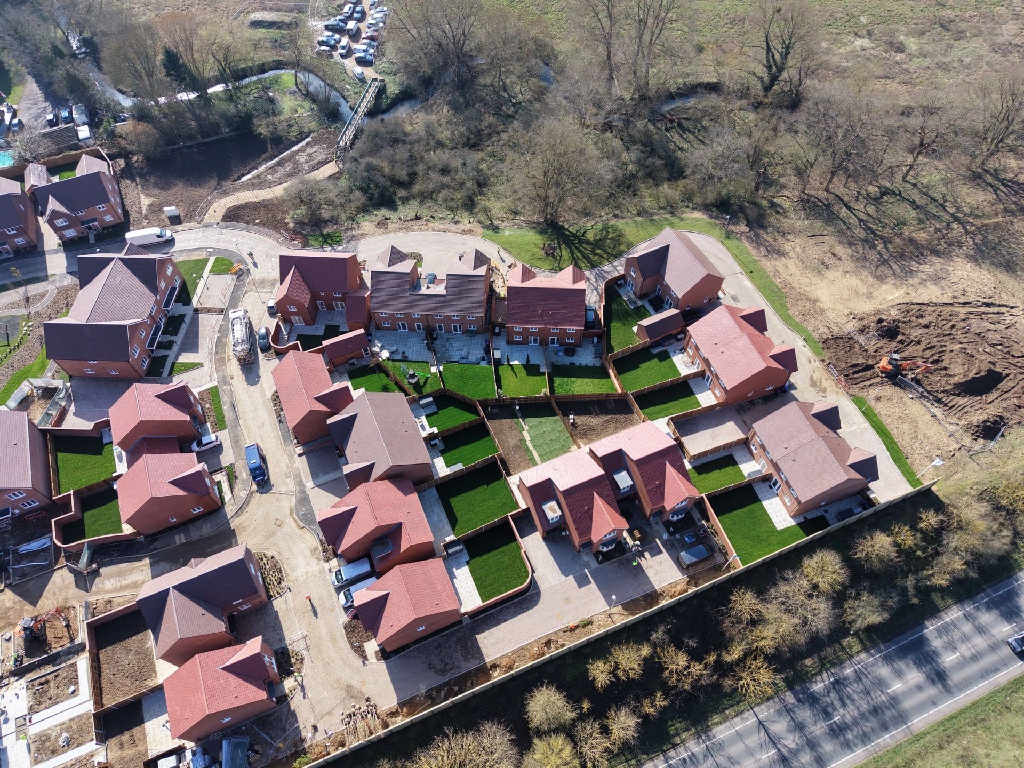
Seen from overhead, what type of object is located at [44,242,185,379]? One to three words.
building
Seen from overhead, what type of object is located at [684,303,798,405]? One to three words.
house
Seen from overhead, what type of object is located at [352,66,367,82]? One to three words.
car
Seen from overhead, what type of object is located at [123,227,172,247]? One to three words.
vehicle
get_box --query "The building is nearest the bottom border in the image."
[163,635,281,742]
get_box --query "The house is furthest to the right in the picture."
[747,400,878,516]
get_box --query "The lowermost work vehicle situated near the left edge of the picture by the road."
[6,615,58,651]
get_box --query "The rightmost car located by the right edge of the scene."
[1003,629,1024,654]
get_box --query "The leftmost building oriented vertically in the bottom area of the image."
[0,411,51,519]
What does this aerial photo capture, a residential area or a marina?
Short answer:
residential area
